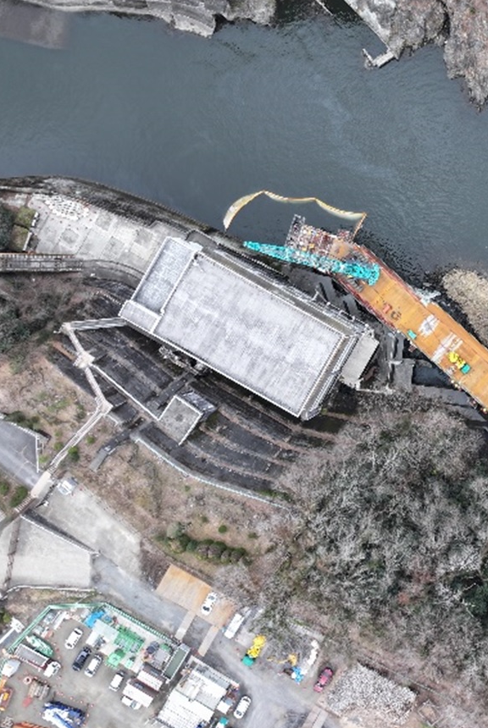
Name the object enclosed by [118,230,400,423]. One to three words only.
building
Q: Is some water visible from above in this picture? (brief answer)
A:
Yes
